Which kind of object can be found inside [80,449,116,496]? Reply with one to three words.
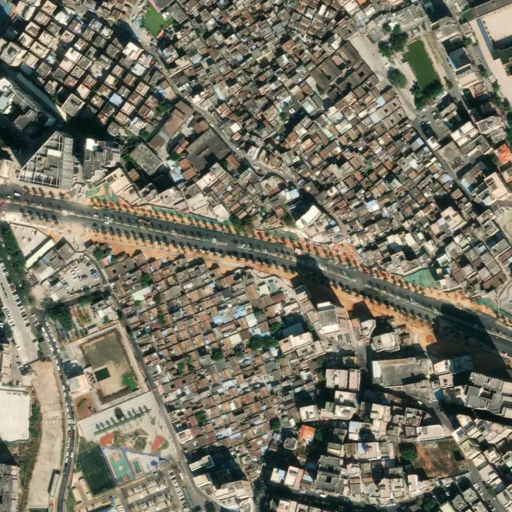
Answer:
soccer field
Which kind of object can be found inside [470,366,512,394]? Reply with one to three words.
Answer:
building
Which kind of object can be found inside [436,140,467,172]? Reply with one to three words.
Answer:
house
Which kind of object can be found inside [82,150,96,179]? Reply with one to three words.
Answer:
building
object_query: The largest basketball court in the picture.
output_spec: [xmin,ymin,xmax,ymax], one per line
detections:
[105,450,130,485]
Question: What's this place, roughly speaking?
residential area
